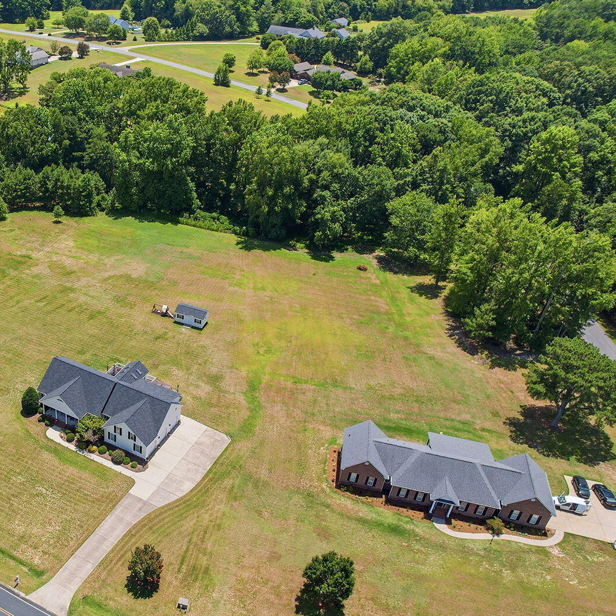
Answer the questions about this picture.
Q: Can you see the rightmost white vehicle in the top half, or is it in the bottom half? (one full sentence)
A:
The bottom half of the photo is where the rightmost white vehicle is.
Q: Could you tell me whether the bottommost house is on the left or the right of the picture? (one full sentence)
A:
You can find the bottommost house on the right side of the picture.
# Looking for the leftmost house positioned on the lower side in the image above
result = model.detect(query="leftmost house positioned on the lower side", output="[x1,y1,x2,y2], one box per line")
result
[36,357,186,462]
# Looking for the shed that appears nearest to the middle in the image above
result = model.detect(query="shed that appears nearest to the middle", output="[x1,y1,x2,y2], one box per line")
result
[175,303,210,328]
